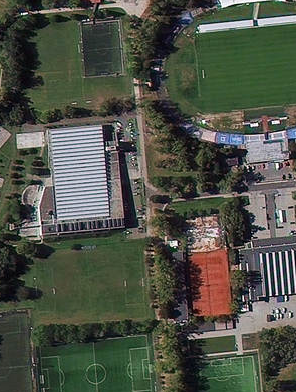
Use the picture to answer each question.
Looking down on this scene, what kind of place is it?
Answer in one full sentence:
What you see here is a sports ground.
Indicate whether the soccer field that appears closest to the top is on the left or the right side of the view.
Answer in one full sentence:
The soccer field that appears closest to the top sits on the right side.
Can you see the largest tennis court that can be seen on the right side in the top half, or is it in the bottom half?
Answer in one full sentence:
You can find the largest tennis court that can be seen on the right side in the bottom half.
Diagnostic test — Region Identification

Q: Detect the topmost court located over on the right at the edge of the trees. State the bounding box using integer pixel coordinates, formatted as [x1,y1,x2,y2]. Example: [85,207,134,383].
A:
[189,249,235,317]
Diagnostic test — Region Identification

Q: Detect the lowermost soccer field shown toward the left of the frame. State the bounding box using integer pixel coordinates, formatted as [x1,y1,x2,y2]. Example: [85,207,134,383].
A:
[39,333,156,392]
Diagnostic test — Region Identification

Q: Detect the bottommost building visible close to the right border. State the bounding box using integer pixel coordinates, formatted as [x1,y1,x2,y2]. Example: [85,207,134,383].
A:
[231,236,296,301]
